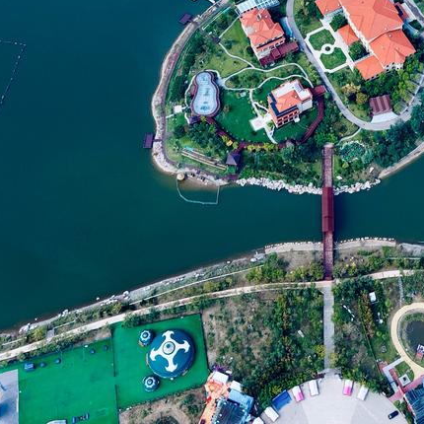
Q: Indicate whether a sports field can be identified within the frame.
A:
Yes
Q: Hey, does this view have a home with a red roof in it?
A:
Yes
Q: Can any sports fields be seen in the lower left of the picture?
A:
Yes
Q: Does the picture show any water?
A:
Yes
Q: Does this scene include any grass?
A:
Yes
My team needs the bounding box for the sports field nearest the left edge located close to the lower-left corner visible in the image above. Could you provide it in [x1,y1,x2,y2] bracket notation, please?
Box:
[16,337,118,424]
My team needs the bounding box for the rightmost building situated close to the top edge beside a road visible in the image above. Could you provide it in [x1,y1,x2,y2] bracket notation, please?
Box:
[316,0,416,83]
